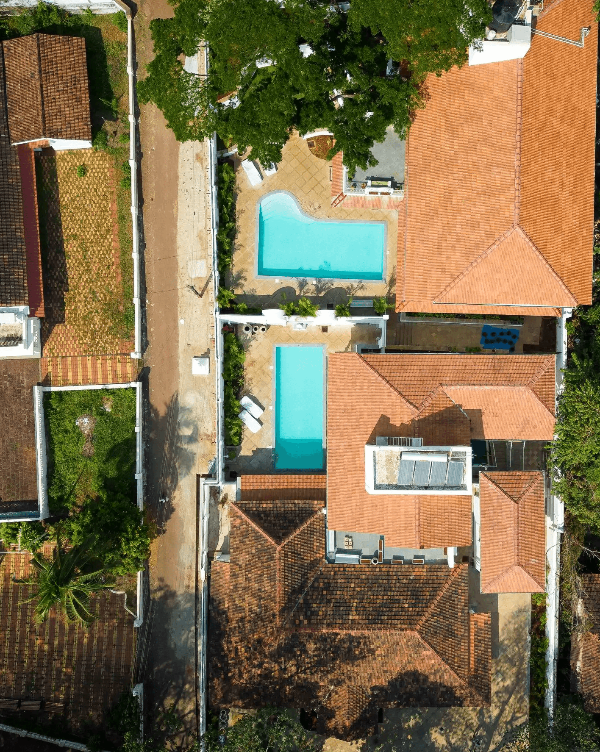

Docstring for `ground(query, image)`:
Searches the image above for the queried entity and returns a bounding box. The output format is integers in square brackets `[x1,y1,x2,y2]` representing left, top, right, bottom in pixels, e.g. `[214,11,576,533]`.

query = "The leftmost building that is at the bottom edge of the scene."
[208,471,492,742]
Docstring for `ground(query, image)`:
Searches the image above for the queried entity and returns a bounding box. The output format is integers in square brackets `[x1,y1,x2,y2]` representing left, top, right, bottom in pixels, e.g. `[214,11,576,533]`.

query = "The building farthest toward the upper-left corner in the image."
[2,33,92,157]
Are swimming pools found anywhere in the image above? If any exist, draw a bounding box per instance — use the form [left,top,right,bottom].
[271,343,327,472]
[253,189,389,285]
